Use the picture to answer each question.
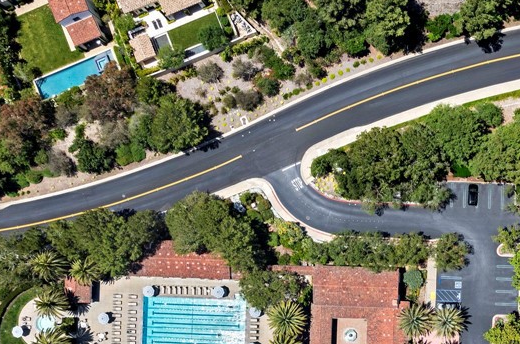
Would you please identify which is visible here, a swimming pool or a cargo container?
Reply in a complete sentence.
Visible in the photo is a swimming pool.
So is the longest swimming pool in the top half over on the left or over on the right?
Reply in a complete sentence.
The longest swimming pool in the top half is on the left side of the image.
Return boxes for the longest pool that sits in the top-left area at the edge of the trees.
[32,47,118,104]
